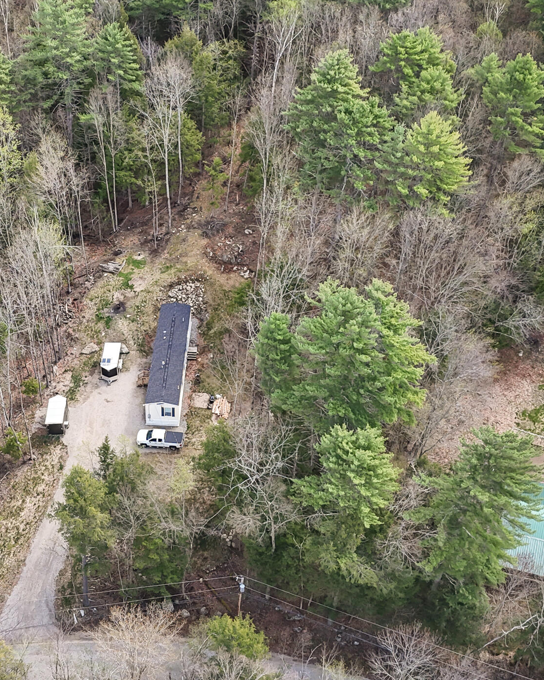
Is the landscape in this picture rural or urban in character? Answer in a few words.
rural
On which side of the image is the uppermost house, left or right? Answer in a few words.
left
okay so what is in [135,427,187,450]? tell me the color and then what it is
white truck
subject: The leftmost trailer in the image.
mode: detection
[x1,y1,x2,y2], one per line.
[44,396,69,435]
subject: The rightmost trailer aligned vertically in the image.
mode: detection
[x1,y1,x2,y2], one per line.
[101,342,125,391]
